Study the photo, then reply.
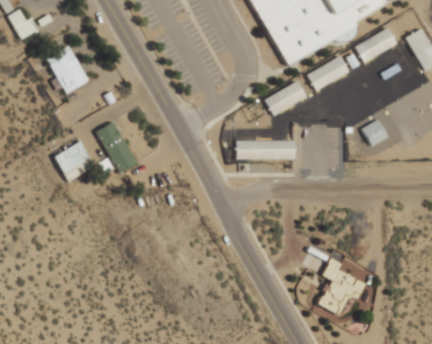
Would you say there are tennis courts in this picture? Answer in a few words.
No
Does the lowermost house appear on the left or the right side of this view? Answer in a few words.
right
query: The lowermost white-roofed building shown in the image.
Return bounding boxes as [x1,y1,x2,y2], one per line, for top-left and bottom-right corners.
[316,259,366,316]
